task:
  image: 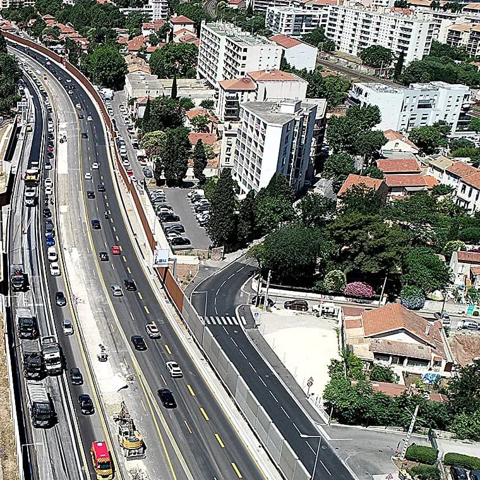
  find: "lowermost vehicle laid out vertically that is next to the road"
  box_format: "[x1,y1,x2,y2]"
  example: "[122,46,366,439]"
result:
[90,441,113,480]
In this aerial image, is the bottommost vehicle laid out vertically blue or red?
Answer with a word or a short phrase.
red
